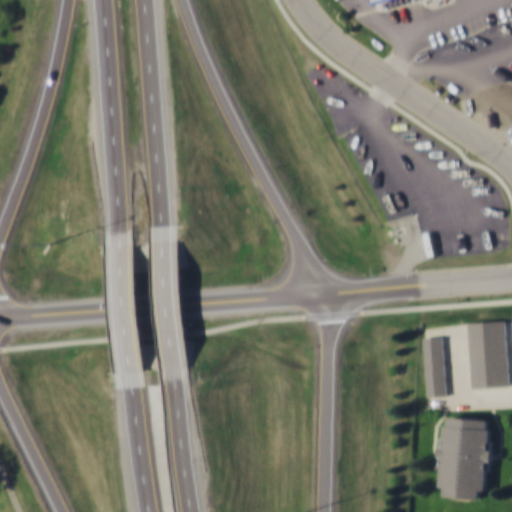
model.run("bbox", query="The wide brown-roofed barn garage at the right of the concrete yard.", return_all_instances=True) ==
[466,322,512,388]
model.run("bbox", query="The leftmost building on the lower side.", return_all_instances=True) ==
[424,337,447,396]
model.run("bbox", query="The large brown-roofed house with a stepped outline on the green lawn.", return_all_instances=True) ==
[434,419,490,499]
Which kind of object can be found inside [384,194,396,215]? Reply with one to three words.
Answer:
vehicle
